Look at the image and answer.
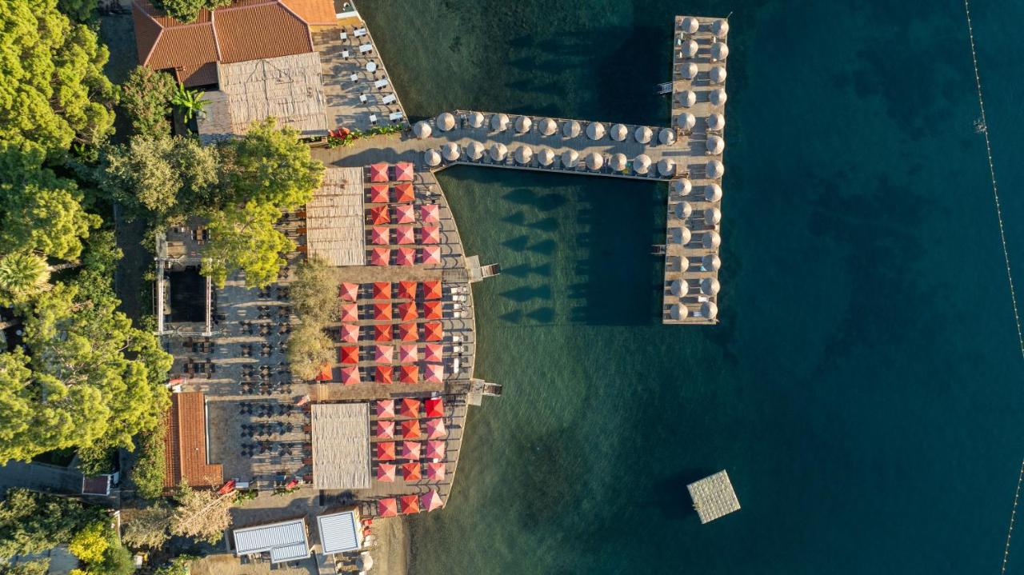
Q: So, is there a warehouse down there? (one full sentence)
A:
No, I find no warehouse anywhere in the image.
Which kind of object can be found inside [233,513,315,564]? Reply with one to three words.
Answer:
building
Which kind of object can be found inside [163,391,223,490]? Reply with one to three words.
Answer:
shed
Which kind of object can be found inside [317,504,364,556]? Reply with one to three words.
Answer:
building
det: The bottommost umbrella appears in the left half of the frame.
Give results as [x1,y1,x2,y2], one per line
[354,552,375,573]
